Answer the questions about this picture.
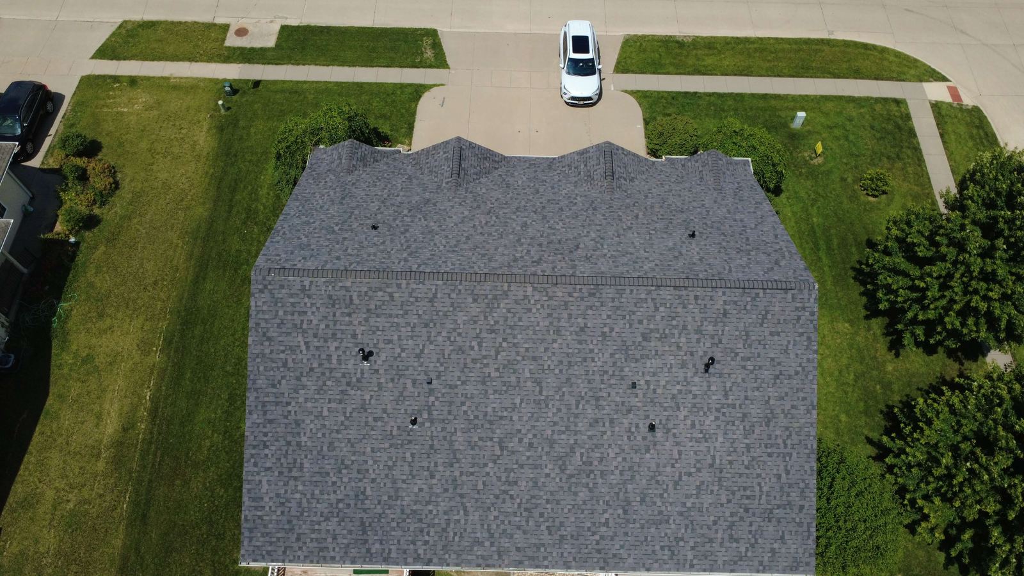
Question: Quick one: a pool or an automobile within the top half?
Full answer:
What appears within the top half is an automobile.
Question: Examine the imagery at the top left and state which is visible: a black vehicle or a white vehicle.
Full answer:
The feature located at the top left is a black vehicle.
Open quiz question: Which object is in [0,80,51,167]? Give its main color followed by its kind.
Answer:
black car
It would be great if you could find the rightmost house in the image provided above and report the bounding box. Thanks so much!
[239,133,818,576]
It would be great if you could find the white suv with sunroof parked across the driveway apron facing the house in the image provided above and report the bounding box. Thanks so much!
[558,23,603,106]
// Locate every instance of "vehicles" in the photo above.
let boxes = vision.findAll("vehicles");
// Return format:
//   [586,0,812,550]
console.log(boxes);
[558,23,603,106]
[0,80,51,167]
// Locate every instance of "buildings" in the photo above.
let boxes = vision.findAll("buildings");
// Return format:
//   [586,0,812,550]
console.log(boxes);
[0,140,38,356]
[239,133,818,576]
